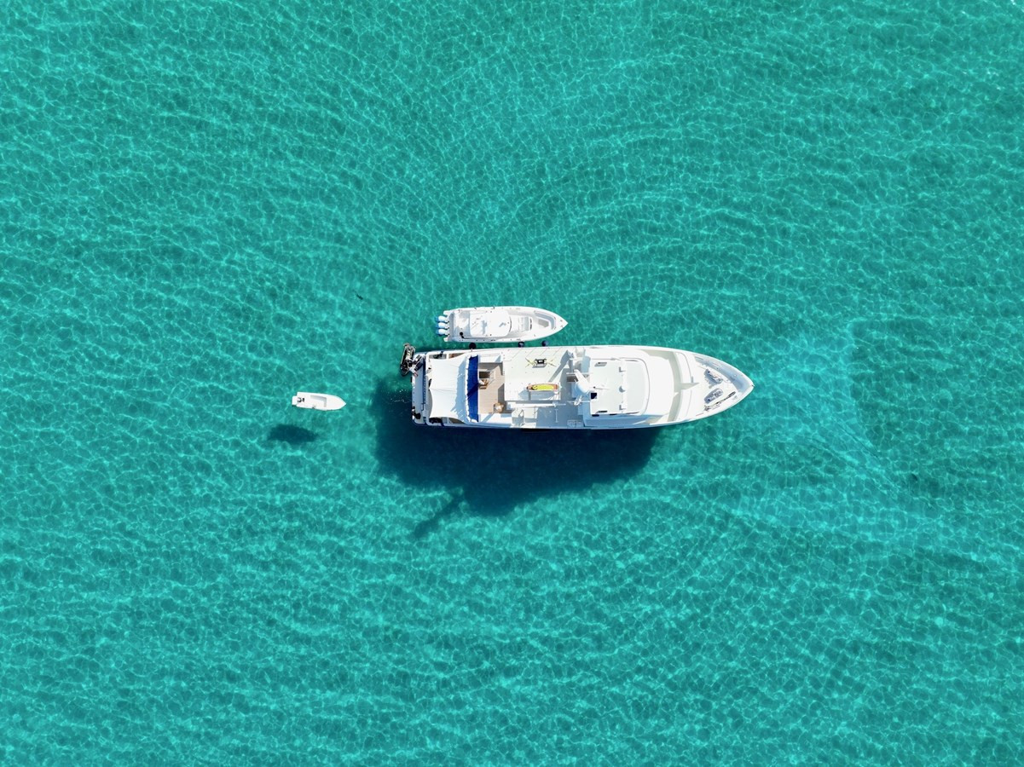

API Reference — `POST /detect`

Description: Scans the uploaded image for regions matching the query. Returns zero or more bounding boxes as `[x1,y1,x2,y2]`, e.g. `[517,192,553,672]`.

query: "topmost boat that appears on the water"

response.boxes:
[436,306,568,343]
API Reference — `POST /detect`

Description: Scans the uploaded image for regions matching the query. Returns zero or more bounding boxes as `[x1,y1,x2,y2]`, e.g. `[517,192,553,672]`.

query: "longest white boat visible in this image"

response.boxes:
[413,345,754,429]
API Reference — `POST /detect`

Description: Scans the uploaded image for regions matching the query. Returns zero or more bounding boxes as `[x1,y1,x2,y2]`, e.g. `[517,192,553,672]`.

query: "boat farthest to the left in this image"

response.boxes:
[289,392,347,411]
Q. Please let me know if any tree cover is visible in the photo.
No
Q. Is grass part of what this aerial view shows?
No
